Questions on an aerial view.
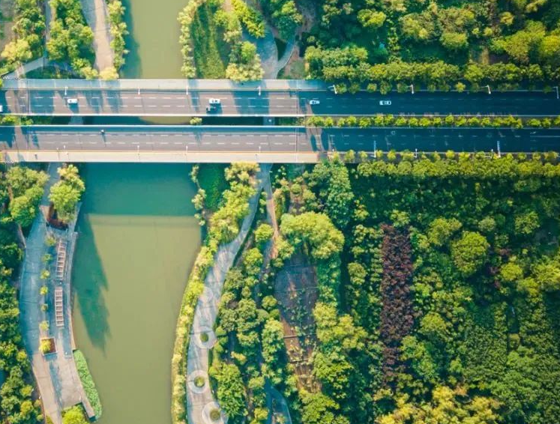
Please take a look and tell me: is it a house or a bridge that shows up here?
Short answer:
bridge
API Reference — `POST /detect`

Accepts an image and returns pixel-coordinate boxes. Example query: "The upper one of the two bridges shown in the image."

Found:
[5,79,322,115]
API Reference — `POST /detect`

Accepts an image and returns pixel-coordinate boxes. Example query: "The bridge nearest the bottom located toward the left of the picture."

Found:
[0,126,325,161]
